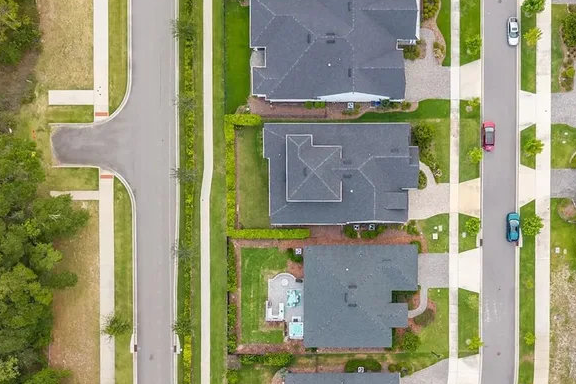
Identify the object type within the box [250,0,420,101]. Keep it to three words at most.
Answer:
house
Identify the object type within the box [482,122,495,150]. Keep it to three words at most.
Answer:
vehicle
